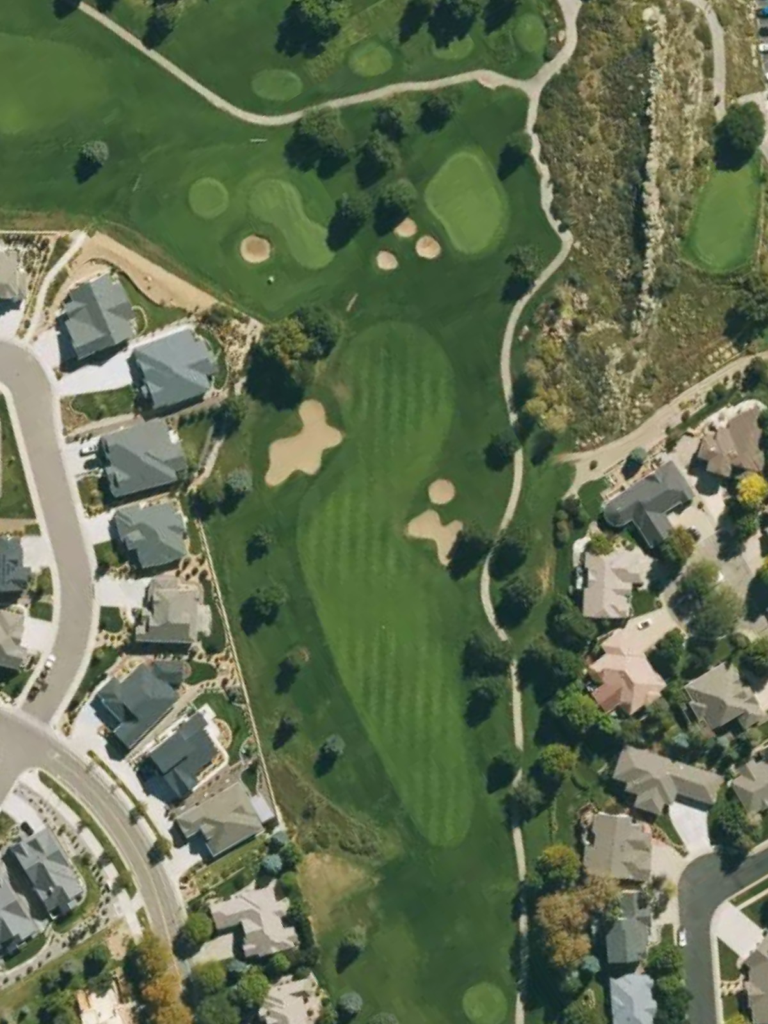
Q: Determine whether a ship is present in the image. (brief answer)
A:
No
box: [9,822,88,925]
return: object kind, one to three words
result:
house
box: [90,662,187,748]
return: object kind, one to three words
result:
house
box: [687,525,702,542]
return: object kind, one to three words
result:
car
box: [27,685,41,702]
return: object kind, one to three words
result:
car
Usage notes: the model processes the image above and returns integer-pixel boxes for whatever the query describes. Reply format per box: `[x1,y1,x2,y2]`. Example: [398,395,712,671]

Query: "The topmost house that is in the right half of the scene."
[699,404,768,479]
